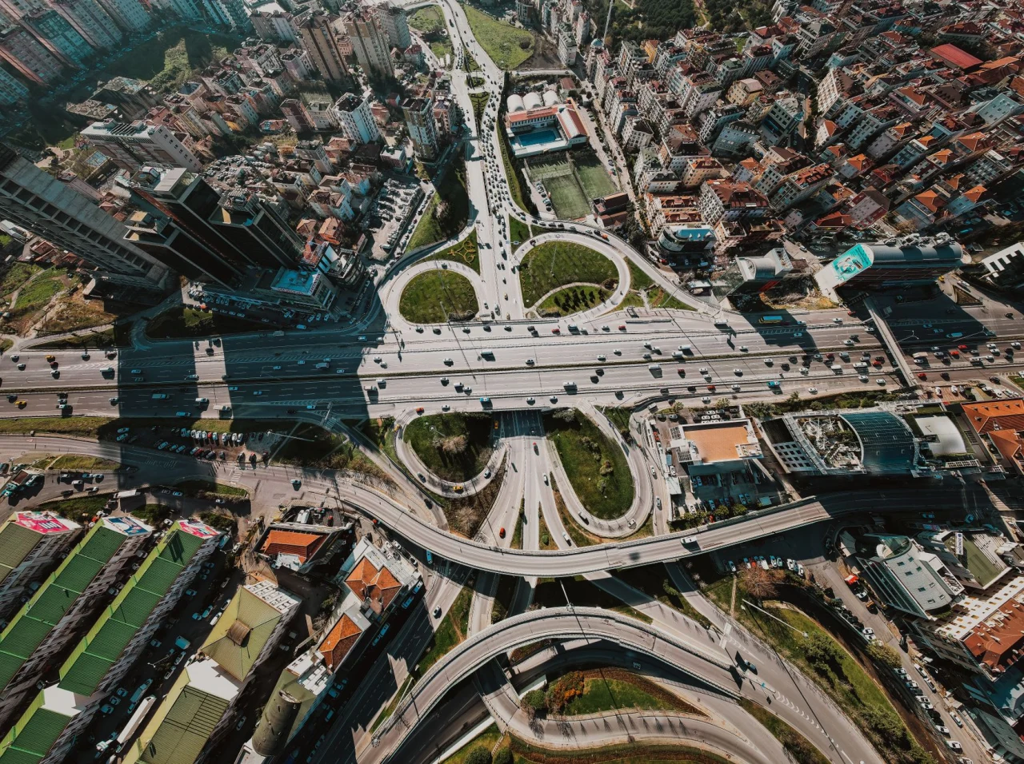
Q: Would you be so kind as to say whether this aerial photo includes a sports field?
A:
Yes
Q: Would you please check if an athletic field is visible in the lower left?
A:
No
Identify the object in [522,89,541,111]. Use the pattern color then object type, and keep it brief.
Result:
white tent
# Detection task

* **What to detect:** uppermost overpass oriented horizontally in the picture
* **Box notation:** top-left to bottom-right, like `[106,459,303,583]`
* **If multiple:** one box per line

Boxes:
[334,478,1024,576]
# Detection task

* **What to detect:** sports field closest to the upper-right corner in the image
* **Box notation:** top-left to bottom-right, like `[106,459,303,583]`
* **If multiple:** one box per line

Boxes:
[570,150,616,201]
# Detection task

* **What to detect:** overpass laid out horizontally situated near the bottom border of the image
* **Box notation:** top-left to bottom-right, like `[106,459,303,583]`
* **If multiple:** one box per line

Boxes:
[352,602,766,764]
